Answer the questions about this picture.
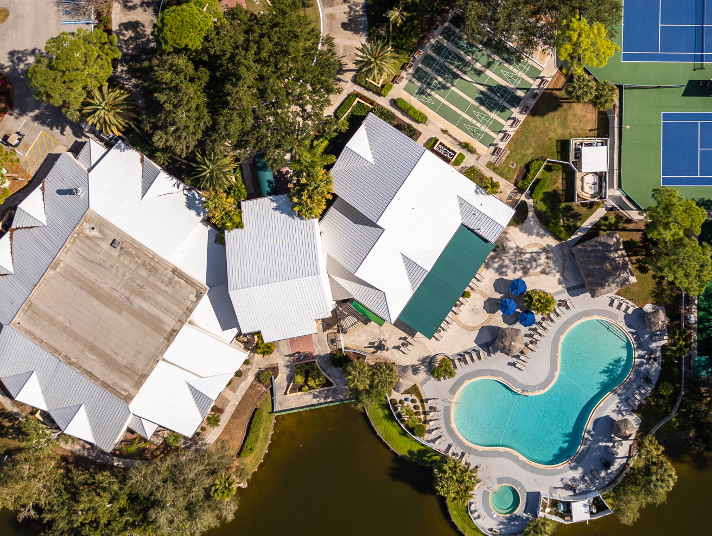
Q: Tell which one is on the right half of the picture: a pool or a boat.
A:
pool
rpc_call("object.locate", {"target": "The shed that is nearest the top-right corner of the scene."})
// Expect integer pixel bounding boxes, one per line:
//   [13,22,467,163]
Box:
[581,146,609,171]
